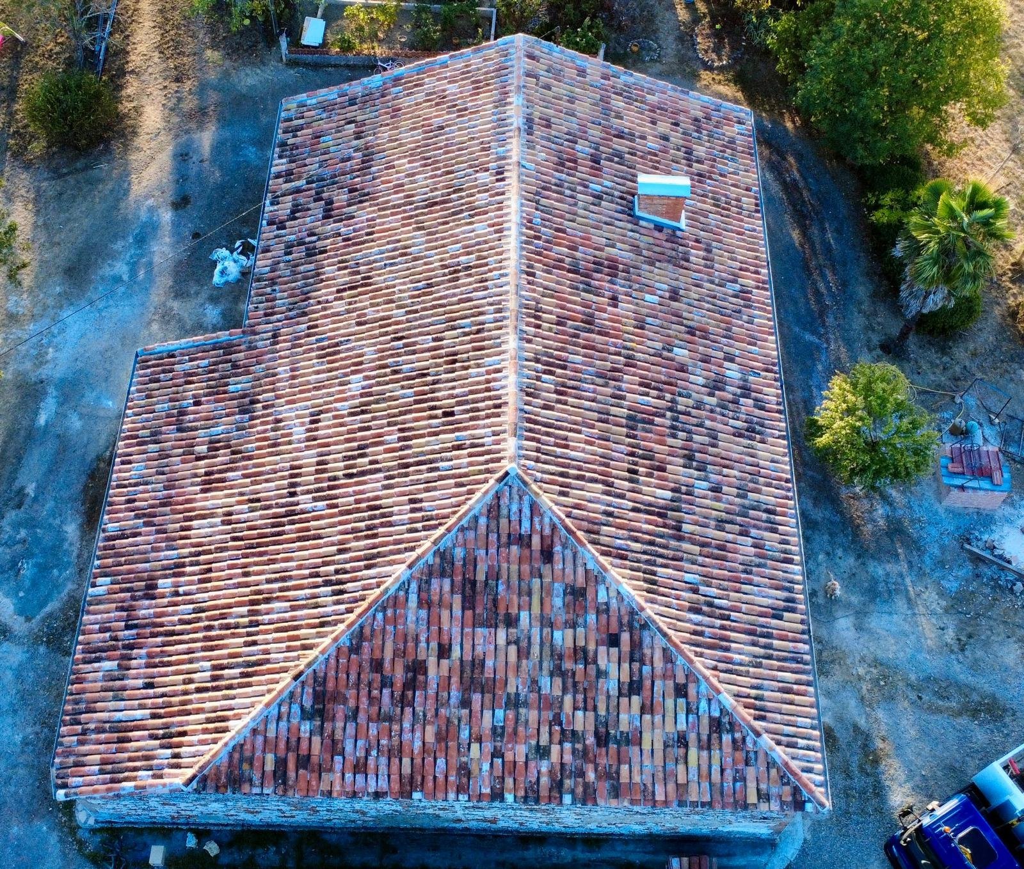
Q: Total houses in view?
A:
one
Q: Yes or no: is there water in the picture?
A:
No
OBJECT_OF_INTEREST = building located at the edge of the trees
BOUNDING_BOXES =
[44,29,835,845]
